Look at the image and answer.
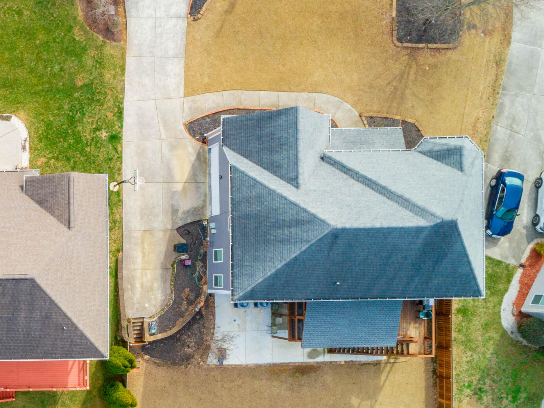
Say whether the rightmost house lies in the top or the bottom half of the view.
bottom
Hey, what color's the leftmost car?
blue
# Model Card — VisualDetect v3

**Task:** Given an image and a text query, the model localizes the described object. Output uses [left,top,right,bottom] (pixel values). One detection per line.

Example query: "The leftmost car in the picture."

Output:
[484,173,527,236]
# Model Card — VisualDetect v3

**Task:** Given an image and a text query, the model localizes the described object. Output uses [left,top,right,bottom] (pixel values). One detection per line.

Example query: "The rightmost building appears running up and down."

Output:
[518,261,544,319]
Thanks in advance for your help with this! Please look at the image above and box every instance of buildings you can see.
[0,170,109,360]
[204,107,487,348]
[518,261,544,319]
